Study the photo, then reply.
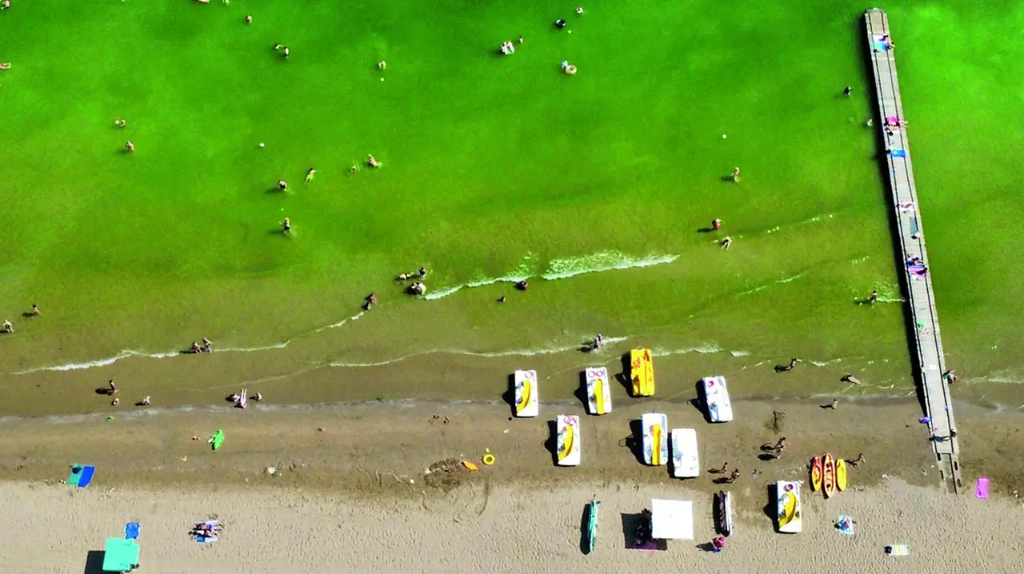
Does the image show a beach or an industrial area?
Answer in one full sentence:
This looks like a beach.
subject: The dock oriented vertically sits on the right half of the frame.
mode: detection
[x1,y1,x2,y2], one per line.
[864,9,965,501]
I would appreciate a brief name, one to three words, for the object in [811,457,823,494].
boat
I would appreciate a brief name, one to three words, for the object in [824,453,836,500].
boat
